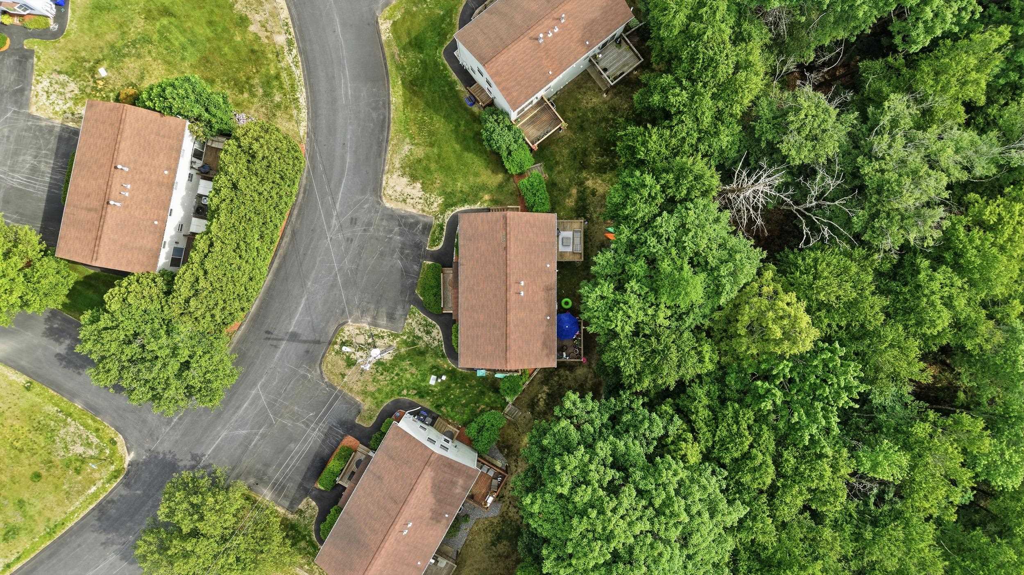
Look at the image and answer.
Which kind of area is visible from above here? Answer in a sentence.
This image shows a residential area.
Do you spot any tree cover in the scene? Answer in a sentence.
Yes, there's tree cover in this view.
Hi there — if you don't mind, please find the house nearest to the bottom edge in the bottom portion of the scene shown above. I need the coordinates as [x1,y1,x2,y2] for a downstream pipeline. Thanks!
[314,410,508,575]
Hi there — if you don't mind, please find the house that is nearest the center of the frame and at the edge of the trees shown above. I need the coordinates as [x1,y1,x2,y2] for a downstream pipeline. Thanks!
[441,208,583,373]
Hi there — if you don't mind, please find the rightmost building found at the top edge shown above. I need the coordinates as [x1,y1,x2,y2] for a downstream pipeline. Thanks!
[454,0,643,150]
